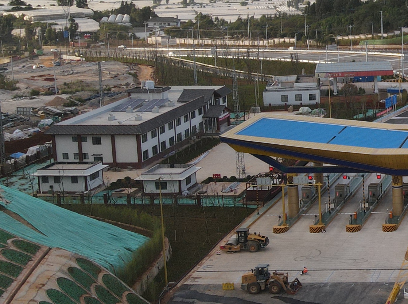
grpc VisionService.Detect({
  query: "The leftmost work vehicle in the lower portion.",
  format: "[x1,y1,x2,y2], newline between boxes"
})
[212,226,276,254]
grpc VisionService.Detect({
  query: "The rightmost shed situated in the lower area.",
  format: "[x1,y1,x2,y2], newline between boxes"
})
[228,171,292,206]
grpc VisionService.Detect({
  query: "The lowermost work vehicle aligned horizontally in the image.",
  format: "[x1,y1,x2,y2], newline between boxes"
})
[238,261,314,294]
